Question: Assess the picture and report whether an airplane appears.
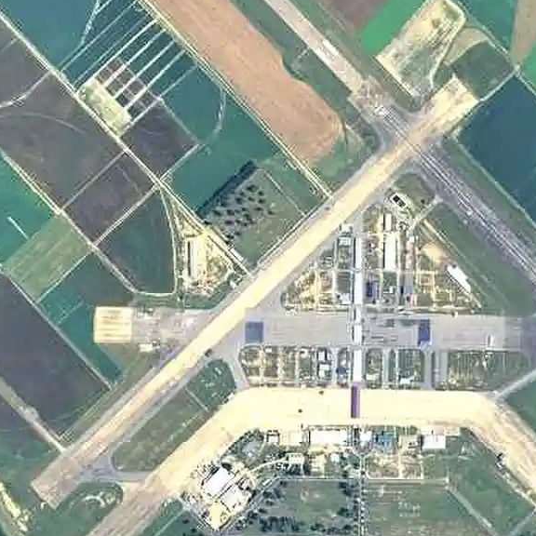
No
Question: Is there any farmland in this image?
Yes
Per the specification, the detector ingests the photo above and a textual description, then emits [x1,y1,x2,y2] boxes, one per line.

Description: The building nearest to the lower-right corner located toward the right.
[423,435,445,449]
